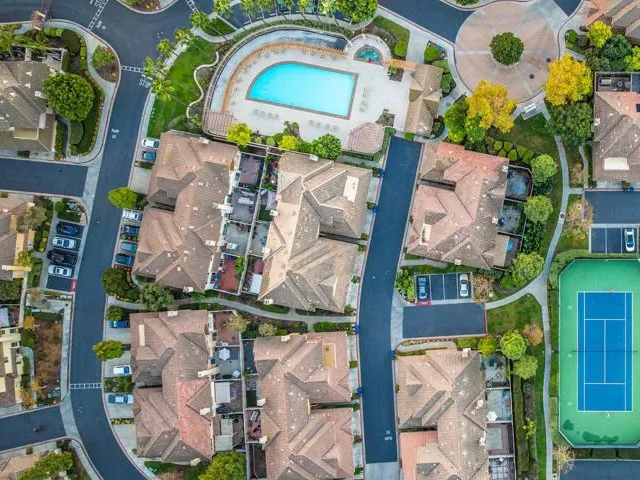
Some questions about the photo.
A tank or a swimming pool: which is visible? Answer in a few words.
swimming pool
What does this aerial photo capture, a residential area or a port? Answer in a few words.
residential area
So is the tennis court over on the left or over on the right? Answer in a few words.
right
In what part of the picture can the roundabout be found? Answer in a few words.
top right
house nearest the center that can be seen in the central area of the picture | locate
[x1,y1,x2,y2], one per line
[254,152,374,312]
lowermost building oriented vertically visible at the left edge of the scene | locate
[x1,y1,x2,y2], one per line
[0,325,37,405]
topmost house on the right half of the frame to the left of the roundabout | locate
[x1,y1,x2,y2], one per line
[403,64,442,138]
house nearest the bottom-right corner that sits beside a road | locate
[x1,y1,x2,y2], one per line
[399,345,492,480]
